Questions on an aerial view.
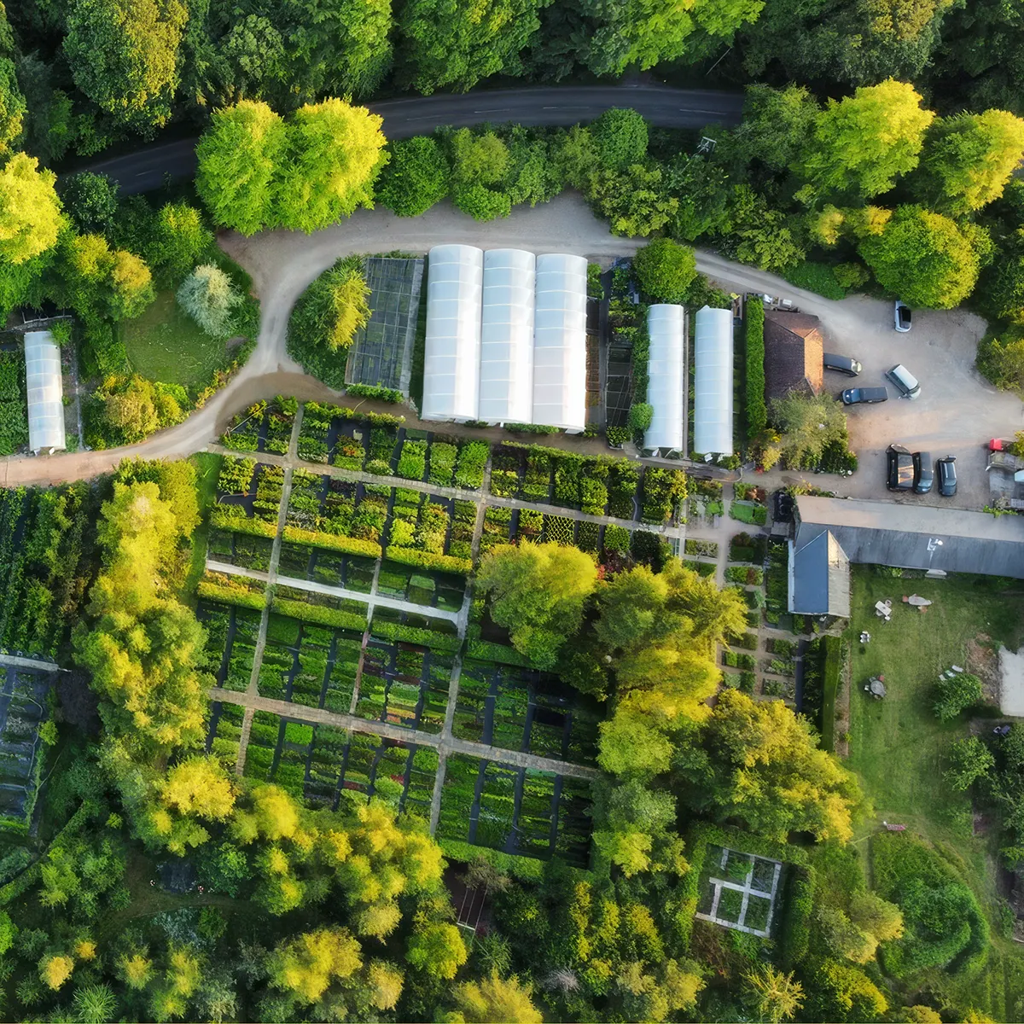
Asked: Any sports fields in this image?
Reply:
No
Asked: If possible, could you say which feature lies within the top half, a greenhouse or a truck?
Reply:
greenhouse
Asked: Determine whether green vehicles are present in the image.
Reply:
No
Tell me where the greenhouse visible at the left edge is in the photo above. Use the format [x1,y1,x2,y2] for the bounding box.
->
[21,333,65,453]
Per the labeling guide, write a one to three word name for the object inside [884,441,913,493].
car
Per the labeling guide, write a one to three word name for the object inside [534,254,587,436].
greenhouse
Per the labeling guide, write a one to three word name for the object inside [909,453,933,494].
car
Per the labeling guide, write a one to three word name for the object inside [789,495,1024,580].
barn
